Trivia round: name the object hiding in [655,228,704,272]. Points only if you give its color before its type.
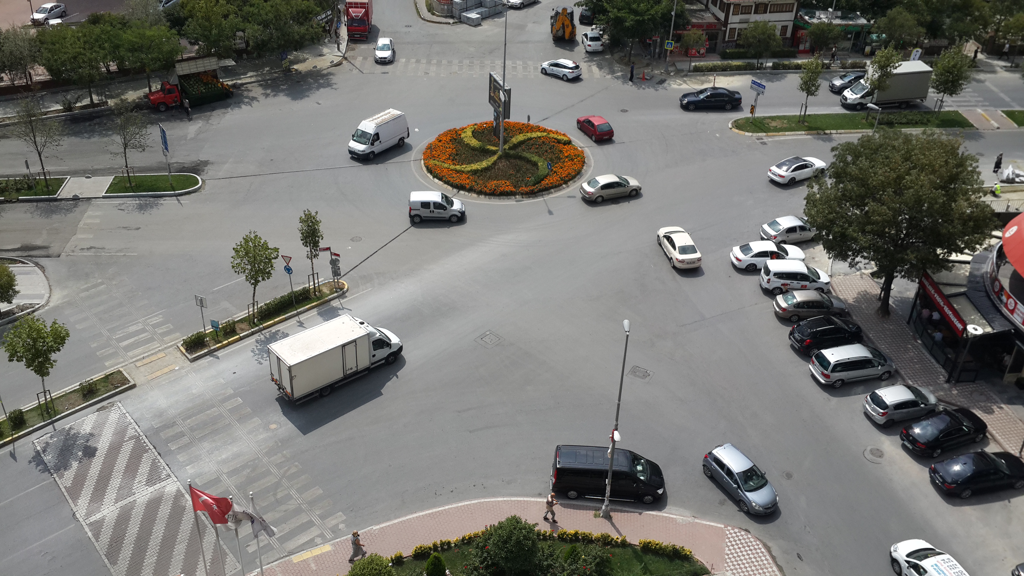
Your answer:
white car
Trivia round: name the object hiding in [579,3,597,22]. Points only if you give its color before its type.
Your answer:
black car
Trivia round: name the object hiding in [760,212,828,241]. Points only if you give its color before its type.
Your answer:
gray car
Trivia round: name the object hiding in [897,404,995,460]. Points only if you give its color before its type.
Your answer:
black car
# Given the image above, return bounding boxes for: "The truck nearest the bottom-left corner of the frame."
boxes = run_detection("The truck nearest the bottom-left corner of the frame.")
[271,307,409,405]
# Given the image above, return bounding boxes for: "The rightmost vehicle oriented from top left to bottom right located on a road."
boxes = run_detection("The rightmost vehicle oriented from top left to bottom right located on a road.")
[701,440,784,519]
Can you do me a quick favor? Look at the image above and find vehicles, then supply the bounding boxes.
[271,307,409,405]
[754,254,832,293]
[370,37,396,62]
[141,56,230,110]
[838,65,927,110]
[678,87,742,110]
[885,536,999,576]
[577,173,644,204]
[404,190,466,223]
[348,109,410,160]
[859,379,941,428]
[830,71,862,91]
[579,3,597,22]
[701,440,784,519]
[728,237,806,272]
[551,2,576,37]
[536,57,585,81]
[26,0,71,23]
[575,114,616,142]
[655,228,704,272]
[506,0,531,8]
[769,154,828,185]
[768,285,852,322]
[897,404,995,460]
[760,212,828,241]
[342,0,383,36]
[926,445,1024,500]
[788,312,866,356]
[581,32,606,54]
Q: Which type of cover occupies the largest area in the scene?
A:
paved ground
